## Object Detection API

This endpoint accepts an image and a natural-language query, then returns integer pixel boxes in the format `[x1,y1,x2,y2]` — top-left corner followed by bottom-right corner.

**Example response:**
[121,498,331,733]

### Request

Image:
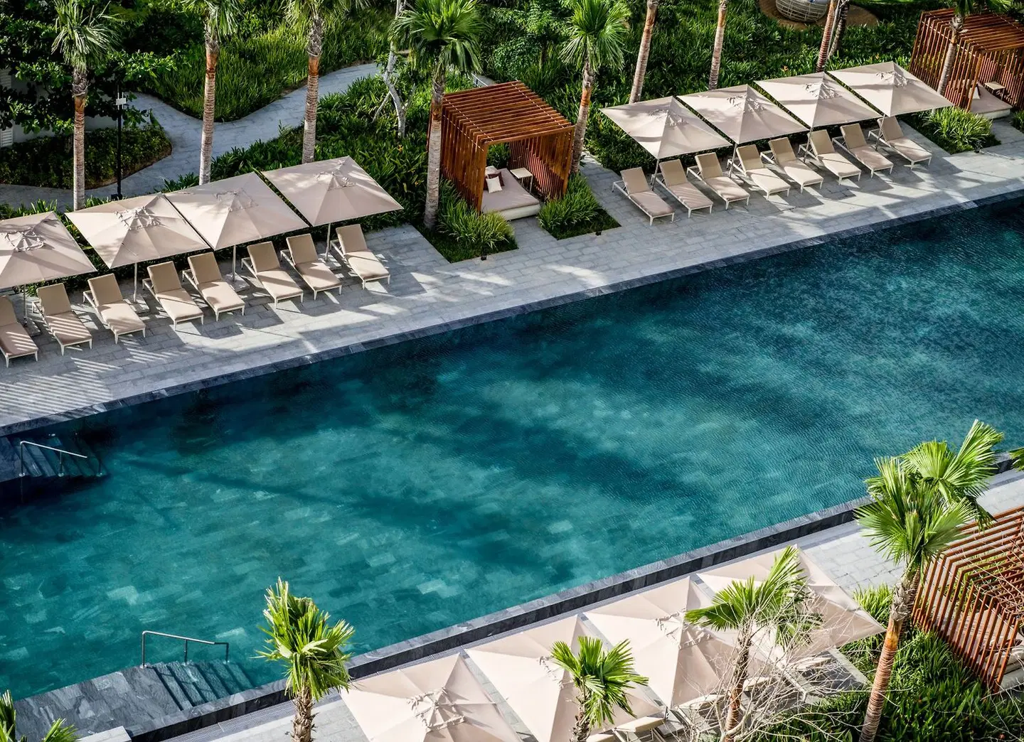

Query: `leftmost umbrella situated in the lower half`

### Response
[342,652,532,742]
